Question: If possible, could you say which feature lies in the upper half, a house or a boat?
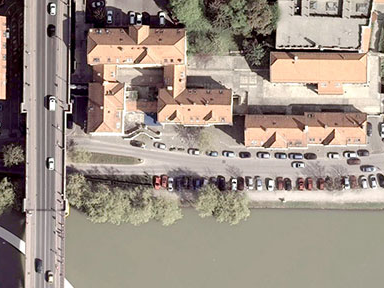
house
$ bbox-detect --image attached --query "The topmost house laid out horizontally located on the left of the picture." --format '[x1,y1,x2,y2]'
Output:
[88,25,186,67]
